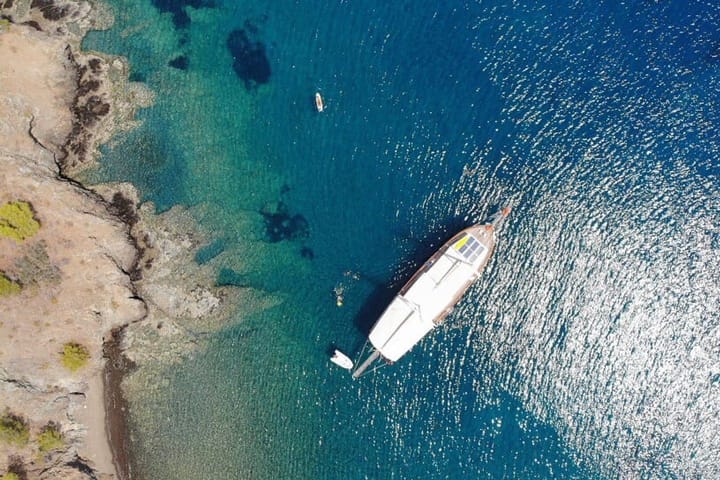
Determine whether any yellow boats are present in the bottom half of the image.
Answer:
No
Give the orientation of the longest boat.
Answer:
diagonally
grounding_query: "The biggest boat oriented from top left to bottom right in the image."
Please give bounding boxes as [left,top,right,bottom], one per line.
[330,349,355,369]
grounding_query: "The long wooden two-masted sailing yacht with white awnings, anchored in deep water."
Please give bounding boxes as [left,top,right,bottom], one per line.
[352,207,513,372]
